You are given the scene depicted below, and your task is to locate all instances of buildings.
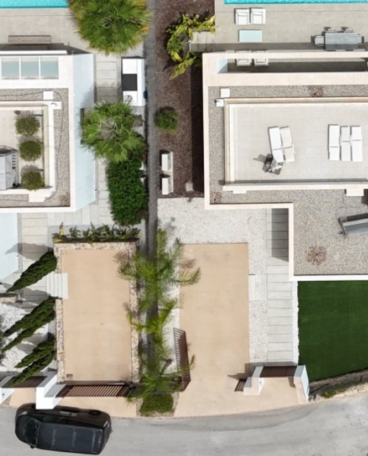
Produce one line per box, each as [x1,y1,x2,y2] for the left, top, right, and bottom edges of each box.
[0,50,99,280]
[204,50,368,281]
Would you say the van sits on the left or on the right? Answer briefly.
left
